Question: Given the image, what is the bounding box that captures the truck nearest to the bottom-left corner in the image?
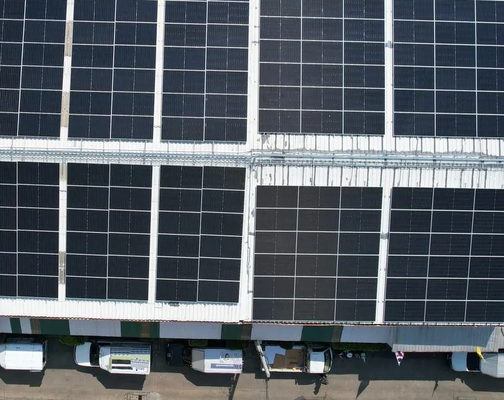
[0,333,50,370]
